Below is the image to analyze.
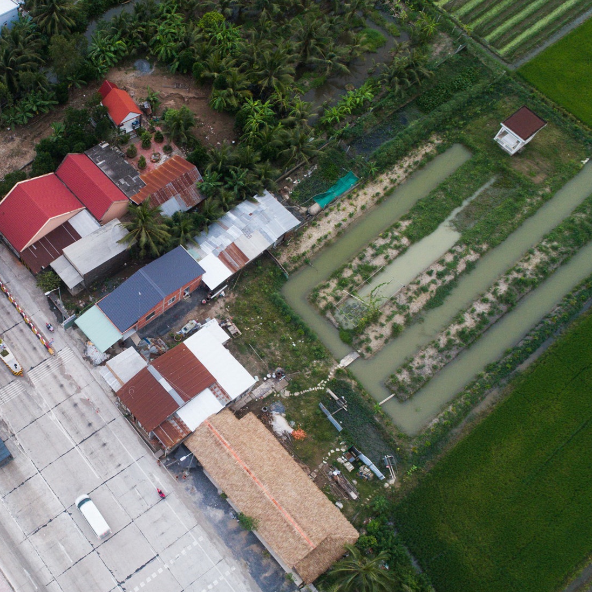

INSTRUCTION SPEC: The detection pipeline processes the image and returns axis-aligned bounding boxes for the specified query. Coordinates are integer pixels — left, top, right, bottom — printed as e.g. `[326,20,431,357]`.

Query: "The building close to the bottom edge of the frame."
[177,409,361,585]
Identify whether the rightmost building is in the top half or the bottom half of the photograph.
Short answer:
top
